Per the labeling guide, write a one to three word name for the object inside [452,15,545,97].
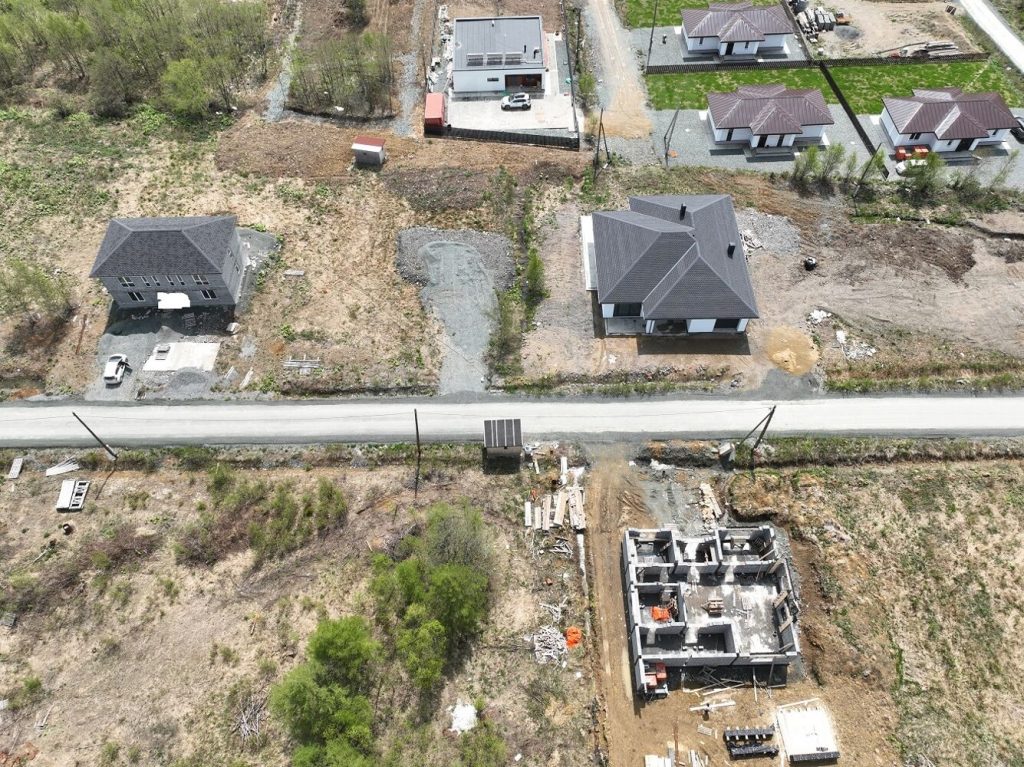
house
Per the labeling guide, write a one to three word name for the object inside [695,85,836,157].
house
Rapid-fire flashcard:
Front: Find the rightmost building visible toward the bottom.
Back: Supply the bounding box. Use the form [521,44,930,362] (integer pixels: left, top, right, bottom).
[623,526,801,695]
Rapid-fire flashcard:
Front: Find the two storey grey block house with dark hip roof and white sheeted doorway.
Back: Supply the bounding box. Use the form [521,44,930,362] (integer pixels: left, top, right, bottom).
[87,215,252,311]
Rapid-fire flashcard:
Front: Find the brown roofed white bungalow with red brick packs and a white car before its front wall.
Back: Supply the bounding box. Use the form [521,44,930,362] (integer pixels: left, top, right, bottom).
[864,89,1024,163]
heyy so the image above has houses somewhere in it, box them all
[864,89,1024,163]
[623,526,801,695]
[584,194,765,337]
[452,15,545,97]
[87,215,252,311]
[695,85,836,157]
[671,3,794,63]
